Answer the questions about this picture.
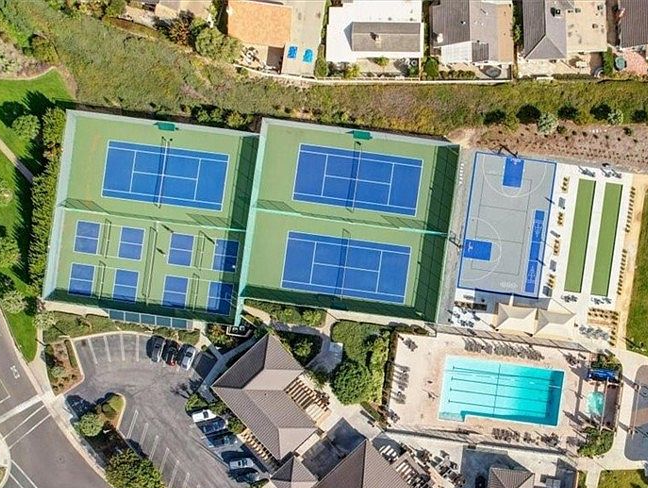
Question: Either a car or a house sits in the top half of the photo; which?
house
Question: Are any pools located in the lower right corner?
Yes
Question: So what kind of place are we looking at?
sports ground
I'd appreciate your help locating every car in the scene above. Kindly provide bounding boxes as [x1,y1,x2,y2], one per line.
[230,457,256,469]
[180,345,198,370]
[191,409,218,422]
[199,420,227,433]
[150,339,167,365]
[210,434,237,446]
[165,341,180,367]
